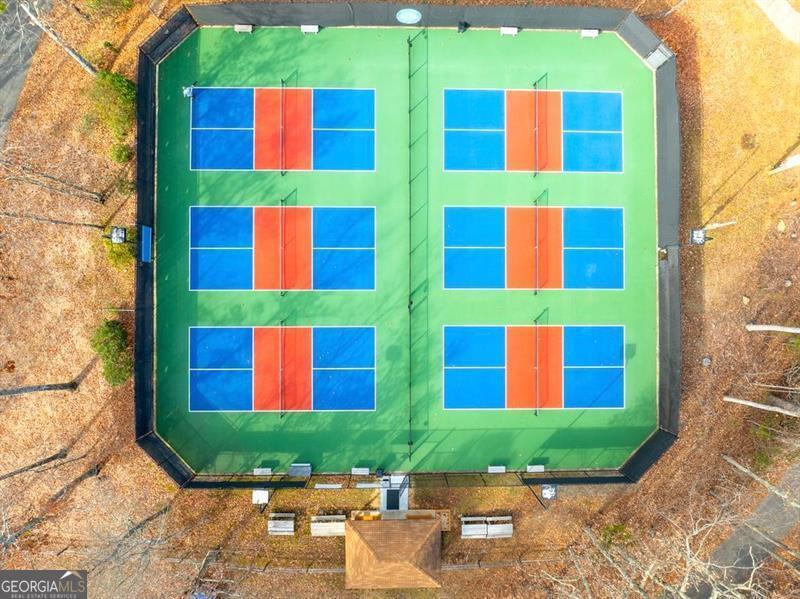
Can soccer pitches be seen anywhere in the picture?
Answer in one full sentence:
No, I can see no soccer pitch in this picture.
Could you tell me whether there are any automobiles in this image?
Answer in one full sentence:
No, there's no automobile here.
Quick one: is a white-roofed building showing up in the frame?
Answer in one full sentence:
No, this view has no white-roofed building in it.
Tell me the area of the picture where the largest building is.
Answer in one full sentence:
Look in the bottom portion of the view to spot the largest building.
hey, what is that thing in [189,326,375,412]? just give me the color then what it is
blue sports court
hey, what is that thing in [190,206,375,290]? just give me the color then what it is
blue sports court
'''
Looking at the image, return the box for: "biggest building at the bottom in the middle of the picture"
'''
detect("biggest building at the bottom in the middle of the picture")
[345,507,452,589]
